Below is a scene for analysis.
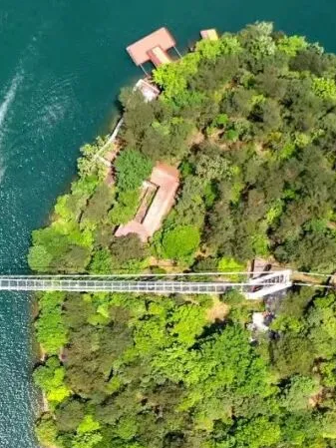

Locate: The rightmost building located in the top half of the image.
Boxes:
[196,27,218,47]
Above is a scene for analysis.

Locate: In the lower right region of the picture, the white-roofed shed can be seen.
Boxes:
[243,316,271,336]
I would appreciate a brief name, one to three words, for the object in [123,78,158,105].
building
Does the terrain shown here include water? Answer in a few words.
Yes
